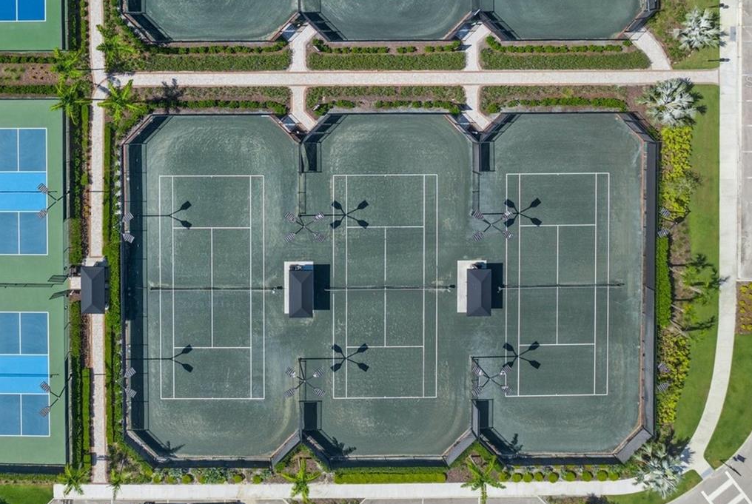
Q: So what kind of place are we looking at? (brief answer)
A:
sports ground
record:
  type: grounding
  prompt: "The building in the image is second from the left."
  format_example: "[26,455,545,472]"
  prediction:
[285,261,312,317]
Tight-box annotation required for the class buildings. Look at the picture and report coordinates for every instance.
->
[285,261,312,317]
[457,260,491,316]
[80,264,106,313]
